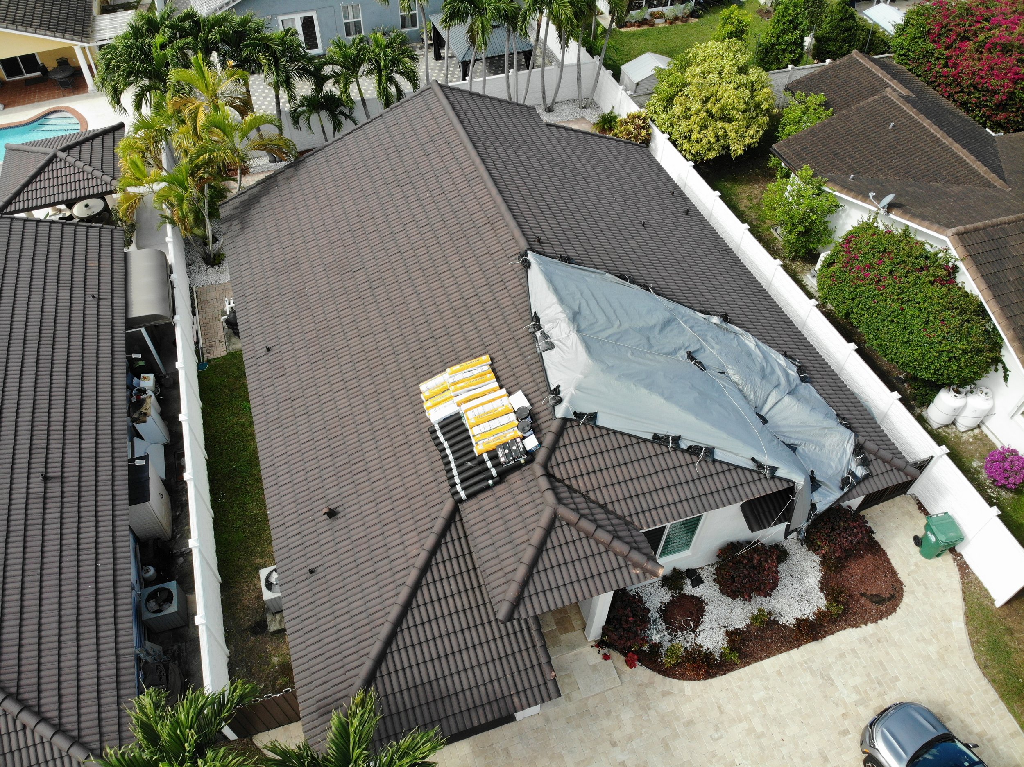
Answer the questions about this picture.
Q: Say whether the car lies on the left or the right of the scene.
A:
right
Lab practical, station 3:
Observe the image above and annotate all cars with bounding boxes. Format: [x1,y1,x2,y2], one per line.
[861,695,996,767]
